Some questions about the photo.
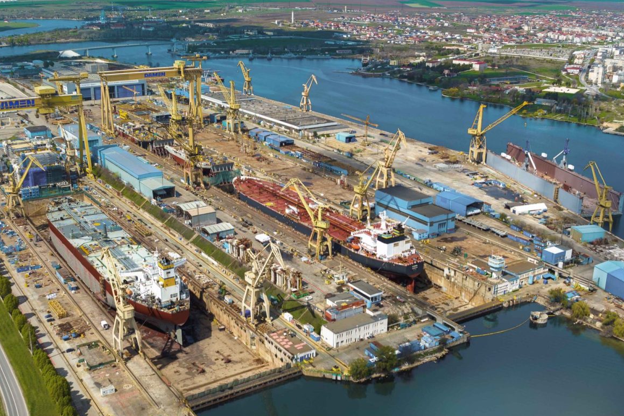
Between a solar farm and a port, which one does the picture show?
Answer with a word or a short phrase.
port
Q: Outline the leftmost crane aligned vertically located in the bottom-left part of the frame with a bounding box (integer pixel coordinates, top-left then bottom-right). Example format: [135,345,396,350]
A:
[96,247,150,361]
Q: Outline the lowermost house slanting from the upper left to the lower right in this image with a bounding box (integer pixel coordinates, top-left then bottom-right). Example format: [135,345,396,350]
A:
[258,319,317,363]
